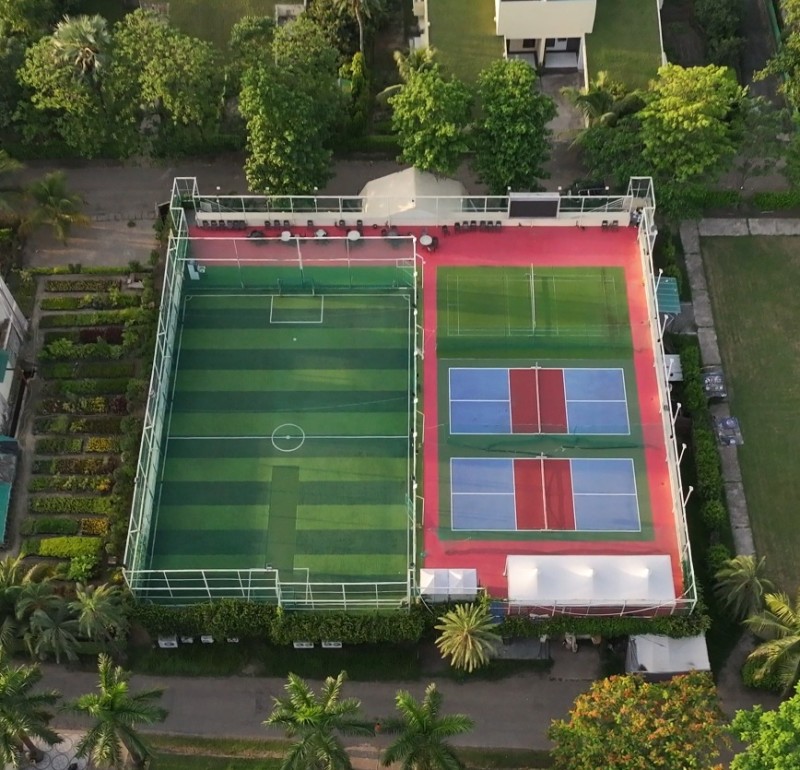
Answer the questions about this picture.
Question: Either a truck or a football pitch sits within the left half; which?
football pitch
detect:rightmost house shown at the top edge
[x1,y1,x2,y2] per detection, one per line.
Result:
[495,0,595,70]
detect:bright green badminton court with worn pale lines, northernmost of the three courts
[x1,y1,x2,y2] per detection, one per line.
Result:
[436,266,635,358]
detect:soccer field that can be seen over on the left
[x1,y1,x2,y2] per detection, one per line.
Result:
[134,266,412,615]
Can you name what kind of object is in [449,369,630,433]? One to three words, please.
sports court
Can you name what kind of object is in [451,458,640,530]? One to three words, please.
sports court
